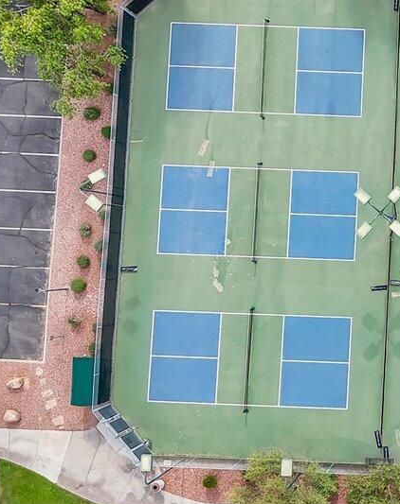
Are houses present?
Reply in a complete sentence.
No, there appears to be no house in this shot.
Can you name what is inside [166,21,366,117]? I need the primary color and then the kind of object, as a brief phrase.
blue sports court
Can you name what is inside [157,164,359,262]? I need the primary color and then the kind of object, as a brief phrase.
blue sports court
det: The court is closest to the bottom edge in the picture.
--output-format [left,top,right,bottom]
[148,310,352,411]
